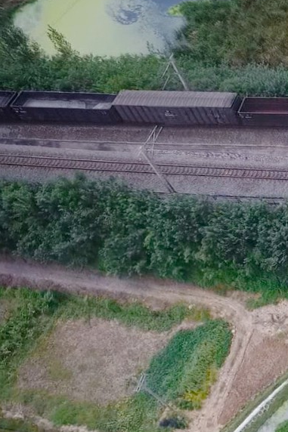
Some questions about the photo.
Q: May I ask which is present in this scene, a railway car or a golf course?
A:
railway car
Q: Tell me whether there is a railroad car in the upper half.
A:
Yes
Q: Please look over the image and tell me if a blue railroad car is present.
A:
No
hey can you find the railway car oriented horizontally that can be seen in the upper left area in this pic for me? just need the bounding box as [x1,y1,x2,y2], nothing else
[11,94,120,125]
